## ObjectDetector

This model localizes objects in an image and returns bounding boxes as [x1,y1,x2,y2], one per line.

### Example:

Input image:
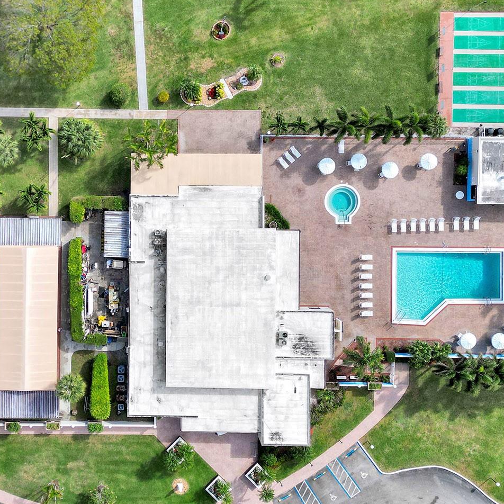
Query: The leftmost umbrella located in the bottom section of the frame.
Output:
[458,332,475,349]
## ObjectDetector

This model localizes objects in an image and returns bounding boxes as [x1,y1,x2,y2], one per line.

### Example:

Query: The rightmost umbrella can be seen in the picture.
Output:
[490,332,504,349]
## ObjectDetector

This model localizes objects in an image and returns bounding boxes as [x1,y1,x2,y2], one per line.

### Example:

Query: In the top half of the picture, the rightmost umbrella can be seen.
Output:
[419,154,437,170]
